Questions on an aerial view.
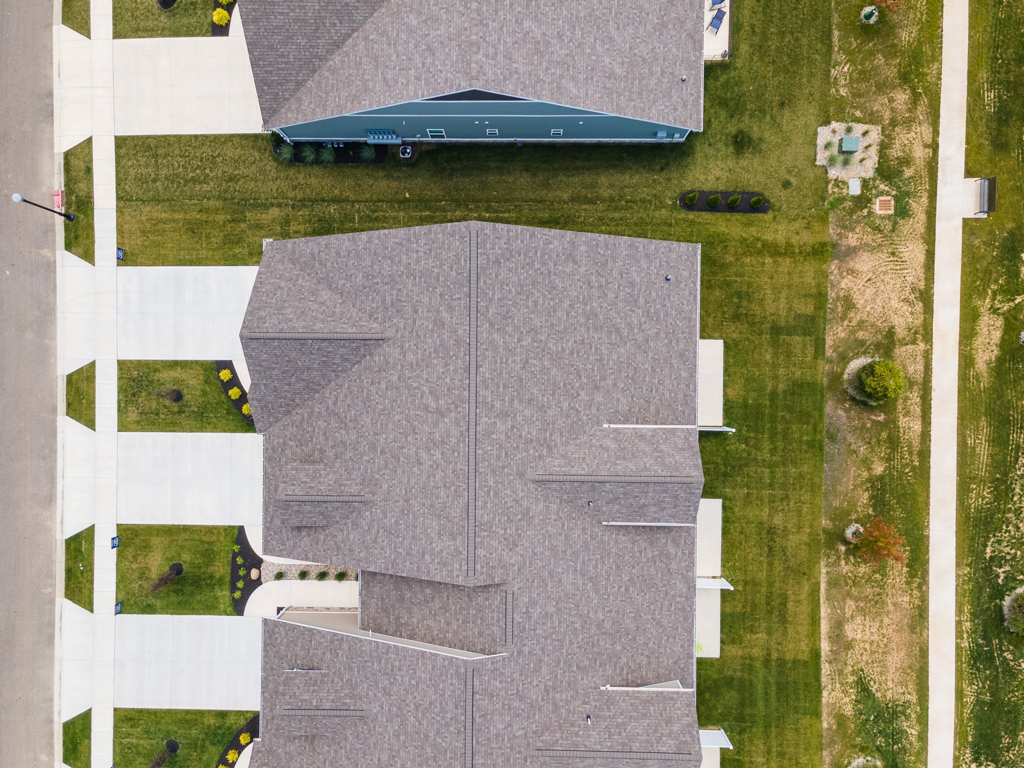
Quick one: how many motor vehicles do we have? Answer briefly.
0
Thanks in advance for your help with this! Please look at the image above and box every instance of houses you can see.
[239,221,704,768]
[239,0,705,150]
